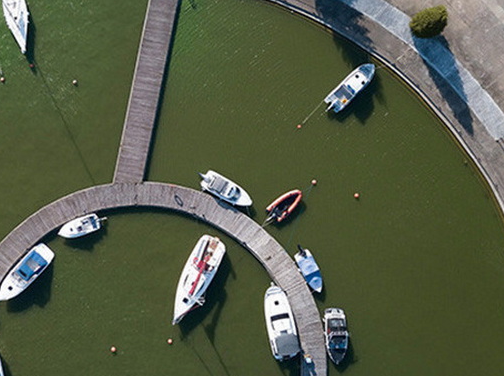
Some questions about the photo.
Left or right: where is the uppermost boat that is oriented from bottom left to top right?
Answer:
right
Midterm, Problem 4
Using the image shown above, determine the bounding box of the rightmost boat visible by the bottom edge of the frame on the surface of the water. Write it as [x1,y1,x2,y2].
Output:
[322,305,347,365]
